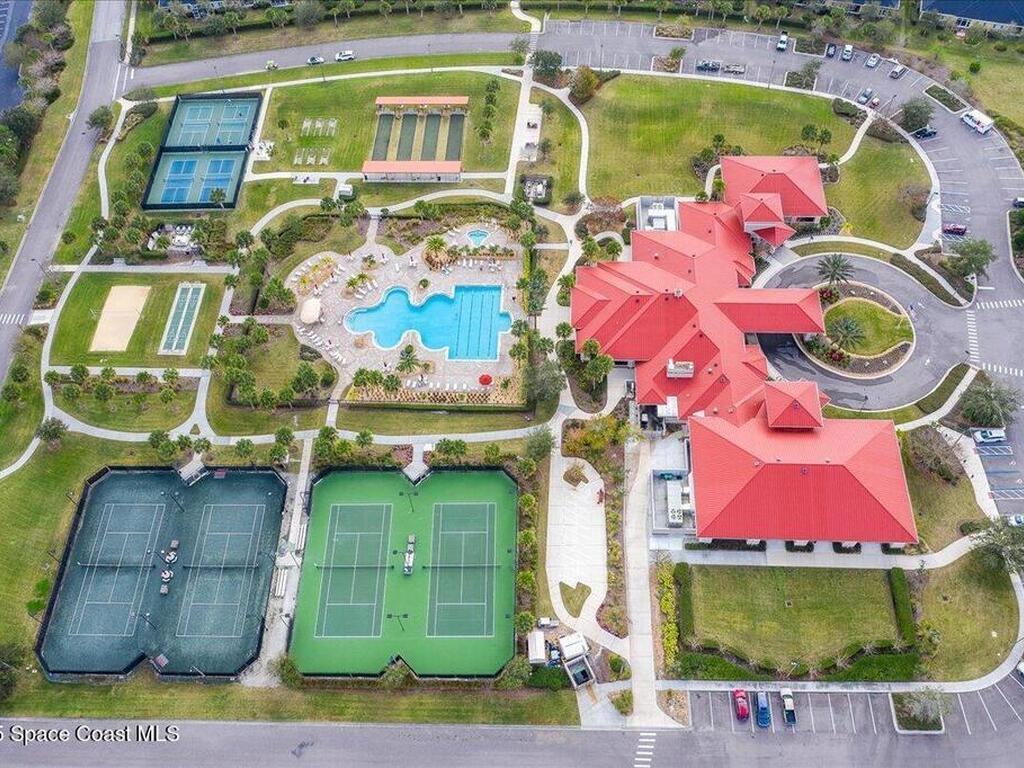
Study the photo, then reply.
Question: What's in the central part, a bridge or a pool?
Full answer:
What appears in the central part is a pool.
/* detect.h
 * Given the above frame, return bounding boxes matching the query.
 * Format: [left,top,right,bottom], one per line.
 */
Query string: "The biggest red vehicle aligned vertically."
[733,689,749,721]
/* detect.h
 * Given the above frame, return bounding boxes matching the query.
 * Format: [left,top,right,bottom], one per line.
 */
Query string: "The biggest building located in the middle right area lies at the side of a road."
[571,156,919,548]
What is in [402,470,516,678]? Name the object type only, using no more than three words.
tennis court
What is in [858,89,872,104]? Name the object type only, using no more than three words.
car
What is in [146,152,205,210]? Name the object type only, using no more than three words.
sports court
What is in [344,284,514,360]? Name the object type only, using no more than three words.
swimming pool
